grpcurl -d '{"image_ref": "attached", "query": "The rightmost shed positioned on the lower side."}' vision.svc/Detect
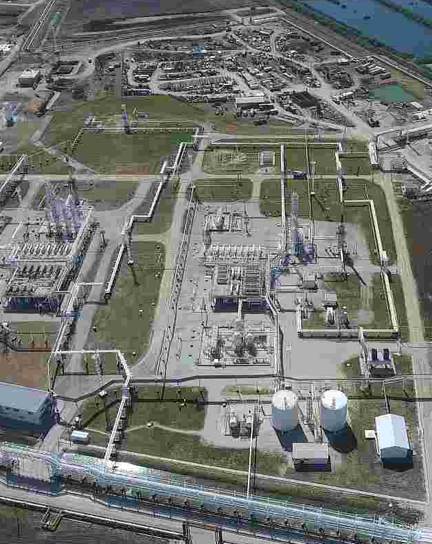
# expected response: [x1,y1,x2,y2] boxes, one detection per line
[375,412,415,464]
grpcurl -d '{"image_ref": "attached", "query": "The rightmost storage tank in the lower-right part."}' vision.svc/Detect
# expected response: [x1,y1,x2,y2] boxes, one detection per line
[319,387,349,434]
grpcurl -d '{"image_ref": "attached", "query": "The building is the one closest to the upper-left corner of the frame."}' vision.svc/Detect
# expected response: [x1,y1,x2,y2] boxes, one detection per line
[15,67,46,85]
